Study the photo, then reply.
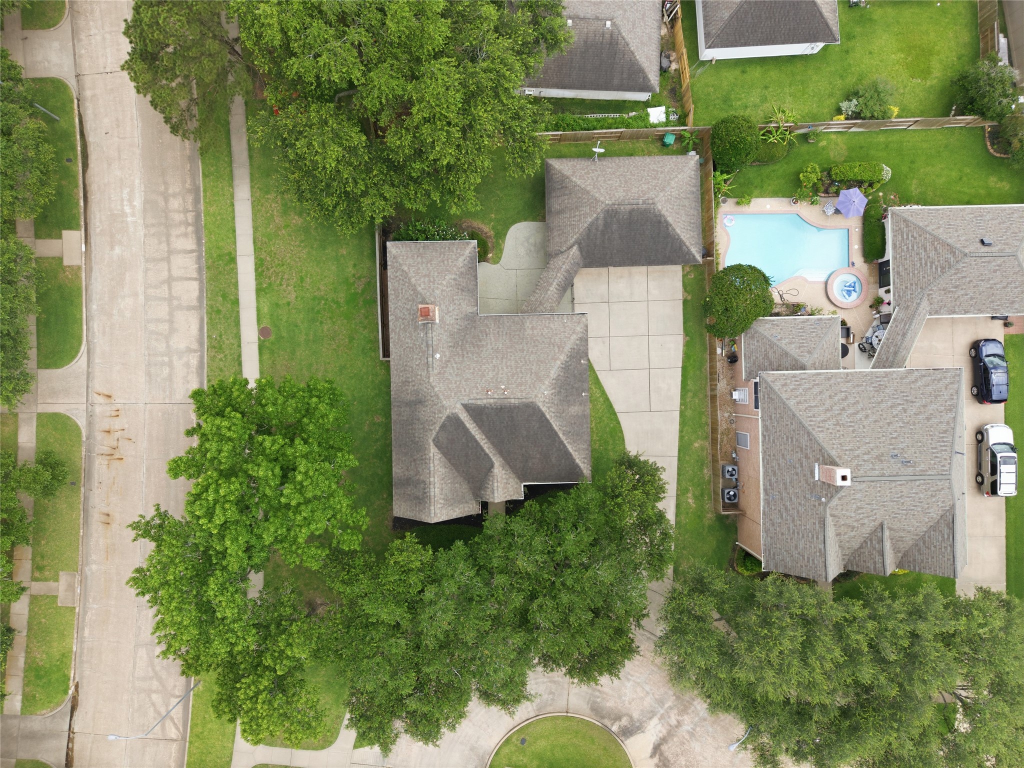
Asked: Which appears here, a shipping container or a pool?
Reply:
pool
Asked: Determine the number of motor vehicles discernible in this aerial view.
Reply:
2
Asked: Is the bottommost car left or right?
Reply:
right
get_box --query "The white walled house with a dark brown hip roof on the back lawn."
[696,0,843,61]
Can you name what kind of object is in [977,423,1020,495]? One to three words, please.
car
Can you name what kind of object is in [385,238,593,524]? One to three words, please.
house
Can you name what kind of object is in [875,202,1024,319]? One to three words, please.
house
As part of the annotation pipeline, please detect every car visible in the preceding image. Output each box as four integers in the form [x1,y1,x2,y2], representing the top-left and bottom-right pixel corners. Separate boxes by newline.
[977,423,1020,495]
[971,339,1012,404]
